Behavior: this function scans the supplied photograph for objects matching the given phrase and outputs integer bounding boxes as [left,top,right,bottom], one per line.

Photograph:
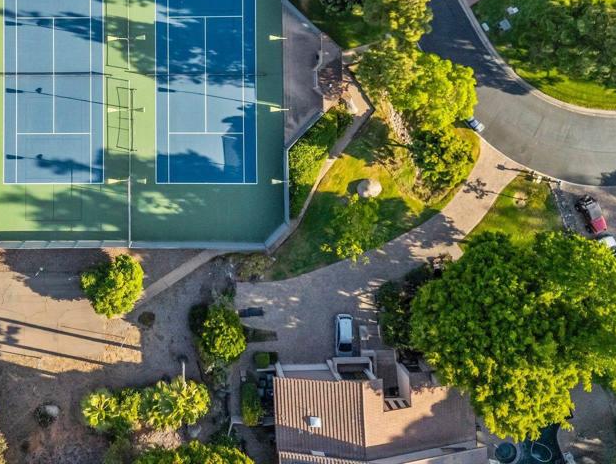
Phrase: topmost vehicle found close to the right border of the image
[577,195,612,237]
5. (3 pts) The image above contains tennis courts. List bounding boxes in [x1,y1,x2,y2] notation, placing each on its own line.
[0,0,128,243]
[128,0,285,243]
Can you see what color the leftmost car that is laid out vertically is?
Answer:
blue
